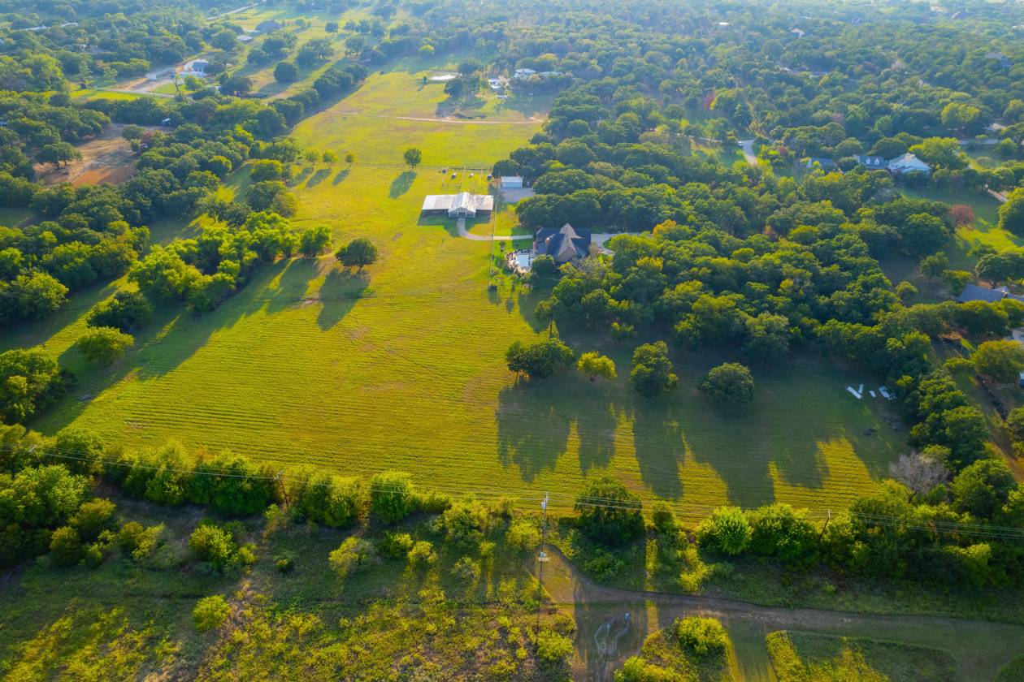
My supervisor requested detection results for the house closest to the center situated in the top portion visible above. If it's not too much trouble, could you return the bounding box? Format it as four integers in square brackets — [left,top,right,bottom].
[526,218,595,264]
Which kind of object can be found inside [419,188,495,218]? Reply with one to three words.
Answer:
barn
